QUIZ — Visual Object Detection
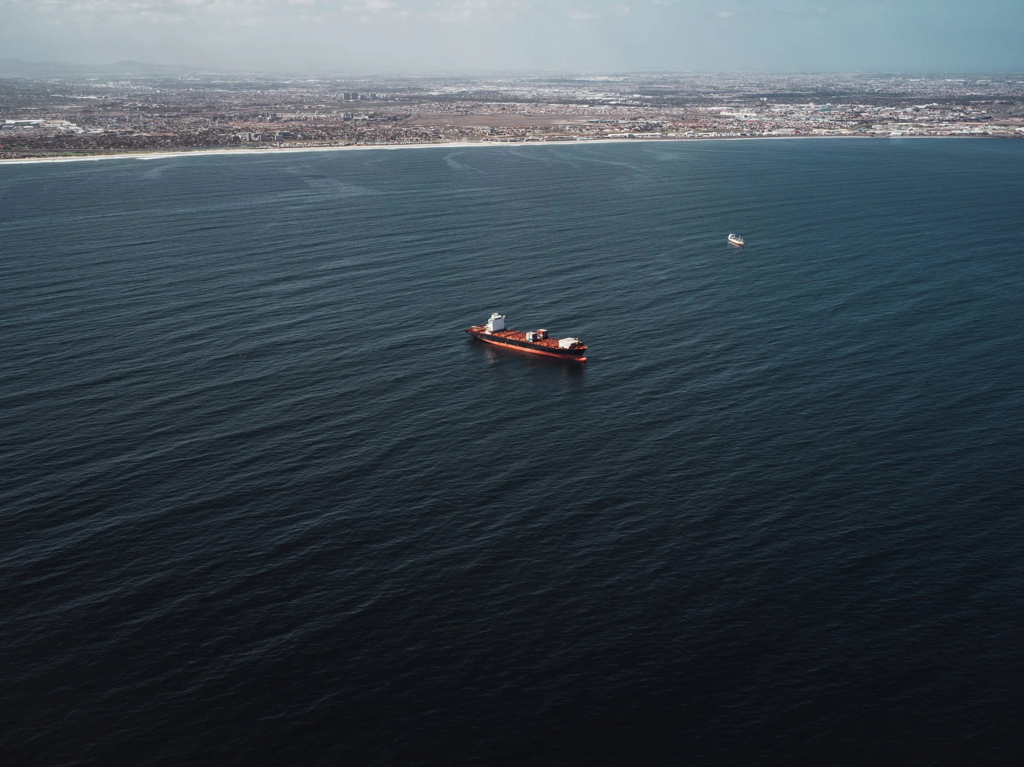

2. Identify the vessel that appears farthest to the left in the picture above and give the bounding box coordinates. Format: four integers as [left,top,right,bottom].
[464,310,589,362]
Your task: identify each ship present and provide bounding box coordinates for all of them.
[464,310,589,362]
[728,234,745,246]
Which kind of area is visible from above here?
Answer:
port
